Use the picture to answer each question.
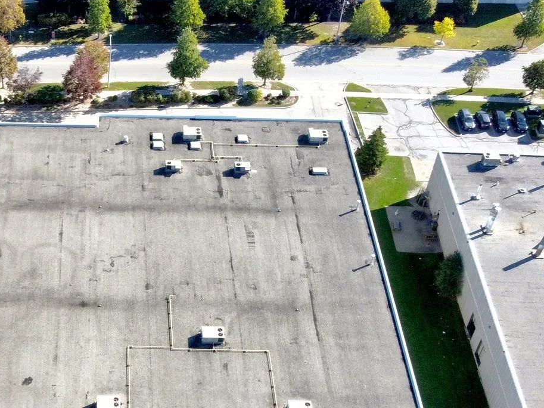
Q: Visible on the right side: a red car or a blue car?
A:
blue car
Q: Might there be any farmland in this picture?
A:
No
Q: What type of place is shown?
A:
industrial area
